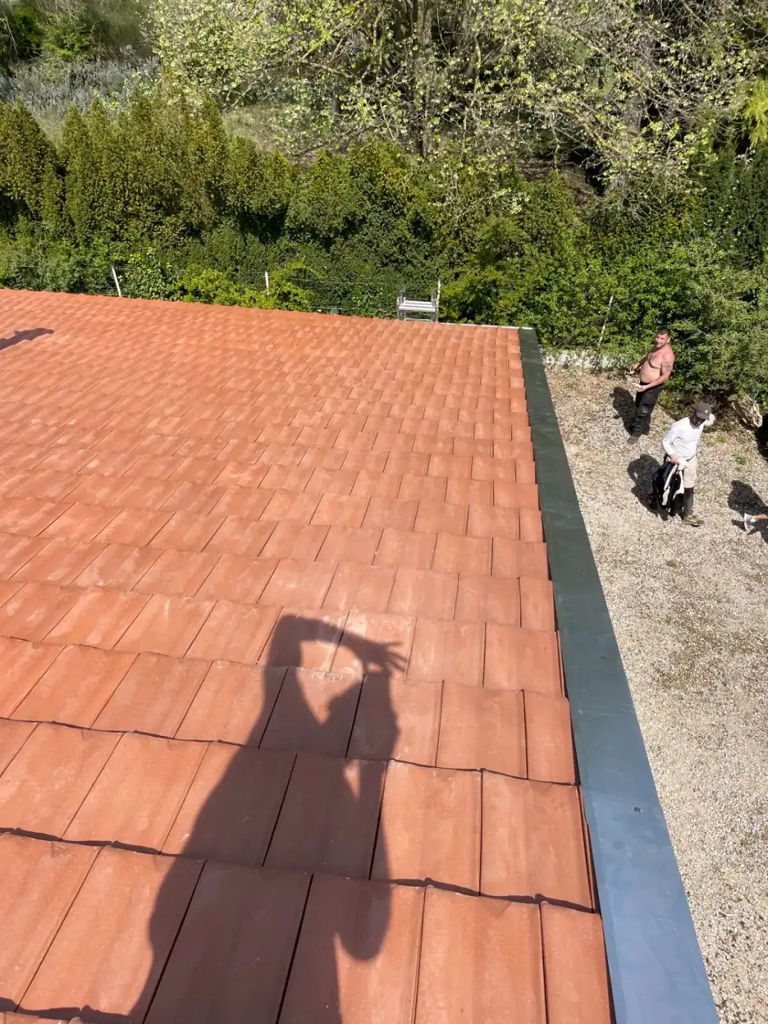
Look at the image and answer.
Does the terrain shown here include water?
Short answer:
No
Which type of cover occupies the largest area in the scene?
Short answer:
buildings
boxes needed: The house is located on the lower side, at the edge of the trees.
[0,297,715,1024]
